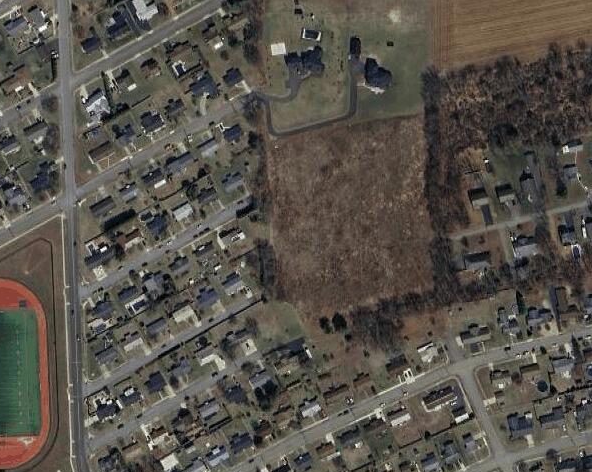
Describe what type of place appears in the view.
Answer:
residential area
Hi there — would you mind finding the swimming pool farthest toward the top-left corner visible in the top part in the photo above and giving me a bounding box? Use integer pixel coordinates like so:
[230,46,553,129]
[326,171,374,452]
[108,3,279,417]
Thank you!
[172,60,189,78]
